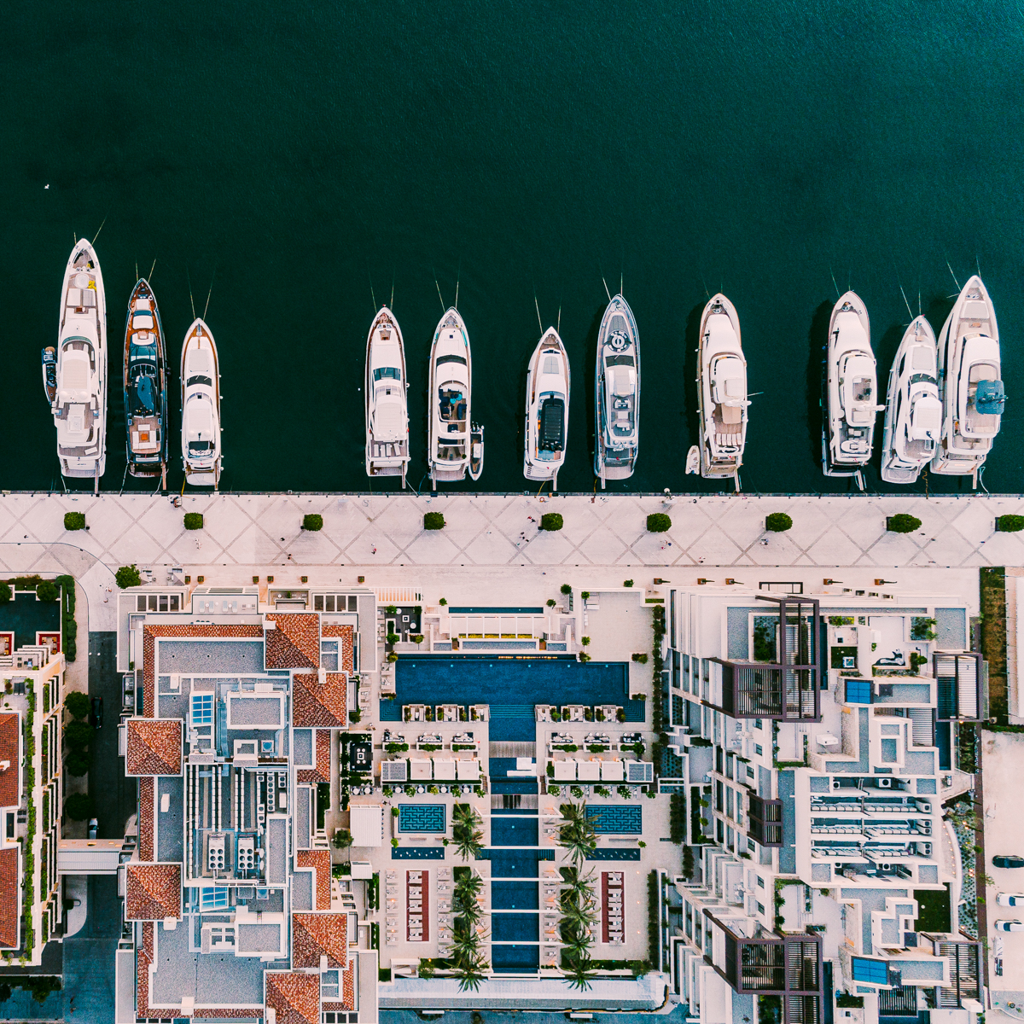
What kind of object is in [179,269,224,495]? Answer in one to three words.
boat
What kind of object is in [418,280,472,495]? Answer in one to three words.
boat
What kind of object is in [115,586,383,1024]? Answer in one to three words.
building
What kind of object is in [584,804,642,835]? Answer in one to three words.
swimming pool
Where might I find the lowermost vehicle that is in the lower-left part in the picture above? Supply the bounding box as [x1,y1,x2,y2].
[86,819,100,841]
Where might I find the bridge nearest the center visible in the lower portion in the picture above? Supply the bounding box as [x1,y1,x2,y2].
[488,741,537,758]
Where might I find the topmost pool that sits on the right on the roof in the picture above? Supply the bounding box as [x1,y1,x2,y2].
[811,616,828,689]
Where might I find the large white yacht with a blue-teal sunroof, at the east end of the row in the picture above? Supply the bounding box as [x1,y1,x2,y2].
[923,260,1008,494]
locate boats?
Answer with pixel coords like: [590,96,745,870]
[878,287,943,496]
[814,272,889,495]
[517,299,571,495]
[695,280,763,495]
[365,275,418,495]
[470,425,484,481]
[179,269,224,495]
[685,445,700,475]
[418,280,472,495]
[119,263,171,495]
[42,346,58,405]
[923,260,1008,494]
[591,278,642,494]
[51,216,108,495]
